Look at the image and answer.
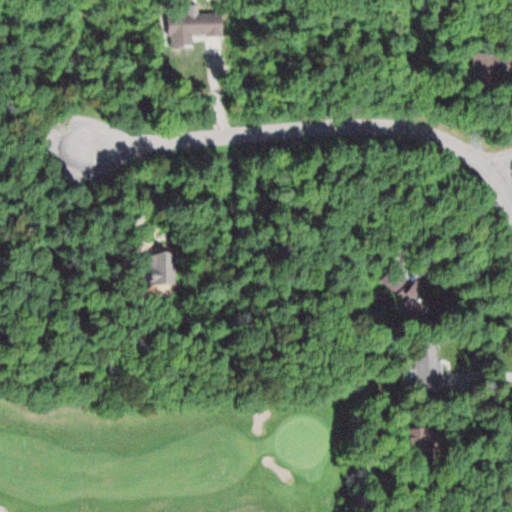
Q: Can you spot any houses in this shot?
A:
Yes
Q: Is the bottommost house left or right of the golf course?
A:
right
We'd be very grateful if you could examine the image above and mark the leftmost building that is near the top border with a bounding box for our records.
[168,8,223,50]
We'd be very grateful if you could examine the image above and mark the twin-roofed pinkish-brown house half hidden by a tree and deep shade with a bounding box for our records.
[378,275,420,304]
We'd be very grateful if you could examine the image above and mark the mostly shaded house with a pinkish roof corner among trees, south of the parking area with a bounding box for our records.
[409,428,444,466]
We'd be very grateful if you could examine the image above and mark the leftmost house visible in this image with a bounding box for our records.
[150,252,177,294]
